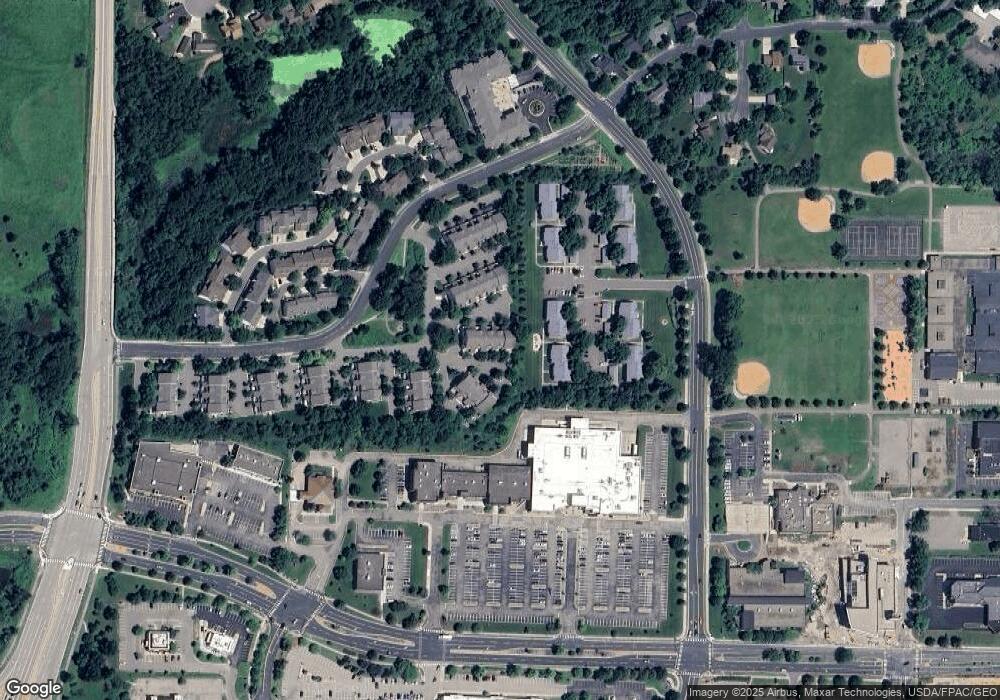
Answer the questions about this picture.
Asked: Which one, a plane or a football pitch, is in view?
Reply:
football pitch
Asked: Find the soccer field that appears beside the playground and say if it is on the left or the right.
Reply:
right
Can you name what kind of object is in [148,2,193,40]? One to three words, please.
house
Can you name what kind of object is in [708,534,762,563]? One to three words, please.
roundabout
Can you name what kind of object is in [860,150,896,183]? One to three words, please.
baseball field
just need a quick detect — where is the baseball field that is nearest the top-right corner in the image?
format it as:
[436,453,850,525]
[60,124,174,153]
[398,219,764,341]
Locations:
[857,41,895,79]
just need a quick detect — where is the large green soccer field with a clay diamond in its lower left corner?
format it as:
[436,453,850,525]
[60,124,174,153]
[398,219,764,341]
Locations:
[733,276,868,404]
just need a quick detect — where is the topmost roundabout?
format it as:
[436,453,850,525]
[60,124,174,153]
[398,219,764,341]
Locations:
[515,65,557,136]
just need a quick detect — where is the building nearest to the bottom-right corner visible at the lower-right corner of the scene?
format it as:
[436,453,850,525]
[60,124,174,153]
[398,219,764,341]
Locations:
[945,576,1000,634]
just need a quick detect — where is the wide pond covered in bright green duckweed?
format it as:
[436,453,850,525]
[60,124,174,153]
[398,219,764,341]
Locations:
[270,49,343,87]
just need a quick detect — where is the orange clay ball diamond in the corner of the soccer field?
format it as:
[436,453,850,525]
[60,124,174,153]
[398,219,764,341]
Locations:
[733,360,771,401]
